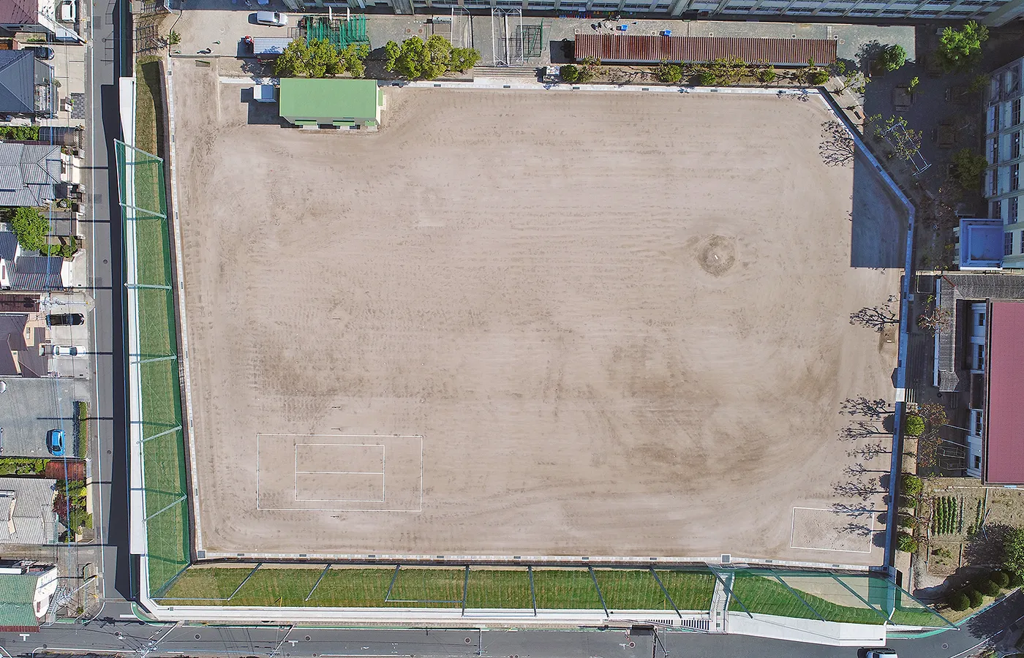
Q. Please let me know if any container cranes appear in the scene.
No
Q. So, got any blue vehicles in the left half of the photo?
Yes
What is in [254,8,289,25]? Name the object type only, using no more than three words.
vehicle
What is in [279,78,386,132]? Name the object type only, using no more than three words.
shed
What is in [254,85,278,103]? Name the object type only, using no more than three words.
shed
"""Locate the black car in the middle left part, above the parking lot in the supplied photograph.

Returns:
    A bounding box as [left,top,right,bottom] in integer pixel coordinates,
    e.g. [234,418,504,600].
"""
[45,312,83,327]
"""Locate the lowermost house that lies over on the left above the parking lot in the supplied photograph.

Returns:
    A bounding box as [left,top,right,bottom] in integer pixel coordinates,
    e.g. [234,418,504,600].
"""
[0,314,57,376]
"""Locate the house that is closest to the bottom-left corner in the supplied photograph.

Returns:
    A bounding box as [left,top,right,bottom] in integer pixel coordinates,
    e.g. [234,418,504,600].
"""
[0,550,68,632]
